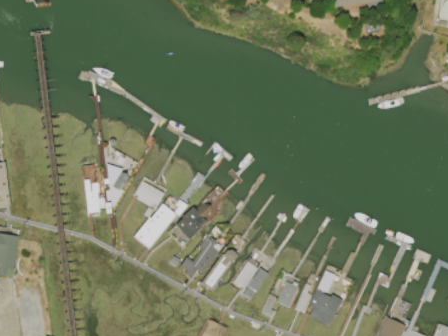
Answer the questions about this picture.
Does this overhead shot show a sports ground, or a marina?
marina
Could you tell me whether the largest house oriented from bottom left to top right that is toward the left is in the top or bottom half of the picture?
bottom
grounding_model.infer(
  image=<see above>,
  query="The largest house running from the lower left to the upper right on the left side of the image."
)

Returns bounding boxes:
[134,200,188,250]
